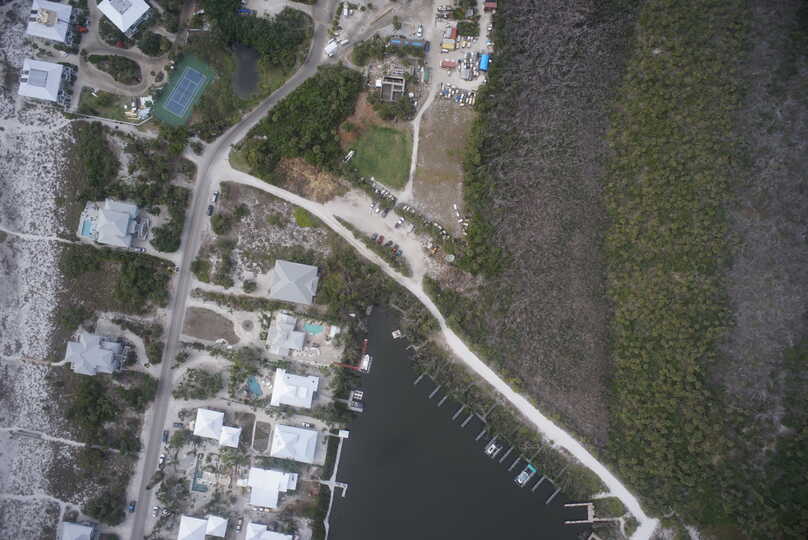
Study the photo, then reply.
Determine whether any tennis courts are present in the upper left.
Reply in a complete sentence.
Yes, a tennis court can be seen in the upper left.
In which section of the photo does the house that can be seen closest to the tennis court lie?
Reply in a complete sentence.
You can find the house that can be seen closest to the tennis court in the top left area of the picture.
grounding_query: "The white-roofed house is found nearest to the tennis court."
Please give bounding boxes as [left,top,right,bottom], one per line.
[98,0,159,39]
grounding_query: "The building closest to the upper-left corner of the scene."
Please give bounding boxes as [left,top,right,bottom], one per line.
[26,0,85,47]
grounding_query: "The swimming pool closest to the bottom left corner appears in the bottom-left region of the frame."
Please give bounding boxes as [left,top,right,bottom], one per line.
[191,471,208,493]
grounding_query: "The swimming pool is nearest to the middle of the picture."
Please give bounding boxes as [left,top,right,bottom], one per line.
[302,322,326,335]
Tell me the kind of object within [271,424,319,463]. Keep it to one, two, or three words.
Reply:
house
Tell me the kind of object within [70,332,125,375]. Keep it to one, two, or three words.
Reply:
house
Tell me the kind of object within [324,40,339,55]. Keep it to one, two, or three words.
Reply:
vehicle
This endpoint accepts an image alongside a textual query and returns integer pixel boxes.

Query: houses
[26,0,85,47]
[60,518,104,540]
[18,58,77,104]
[246,522,293,540]
[271,368,319,408]
[271,424,319,463]
[70,332,125,375]
[98,0,159,39]
[194,408,241,448]
[178,515,228,540]
[237,467,297,508]
[268,260,319,305]
[266,313,305,356]
[97,200,148,247]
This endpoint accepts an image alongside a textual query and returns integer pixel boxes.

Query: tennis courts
[153,52,214,125]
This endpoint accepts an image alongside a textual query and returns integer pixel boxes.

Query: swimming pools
[191,471,208,493]
[302,322,326,335]
[246,374,262,397]
[81,219,93,236]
